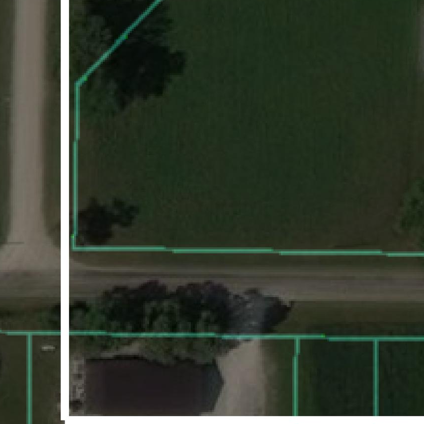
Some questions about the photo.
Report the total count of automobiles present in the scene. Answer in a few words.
0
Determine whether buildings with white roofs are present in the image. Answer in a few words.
No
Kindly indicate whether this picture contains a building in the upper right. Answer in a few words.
No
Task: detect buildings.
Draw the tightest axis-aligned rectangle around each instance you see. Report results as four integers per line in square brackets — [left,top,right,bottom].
[85,356,203,417]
